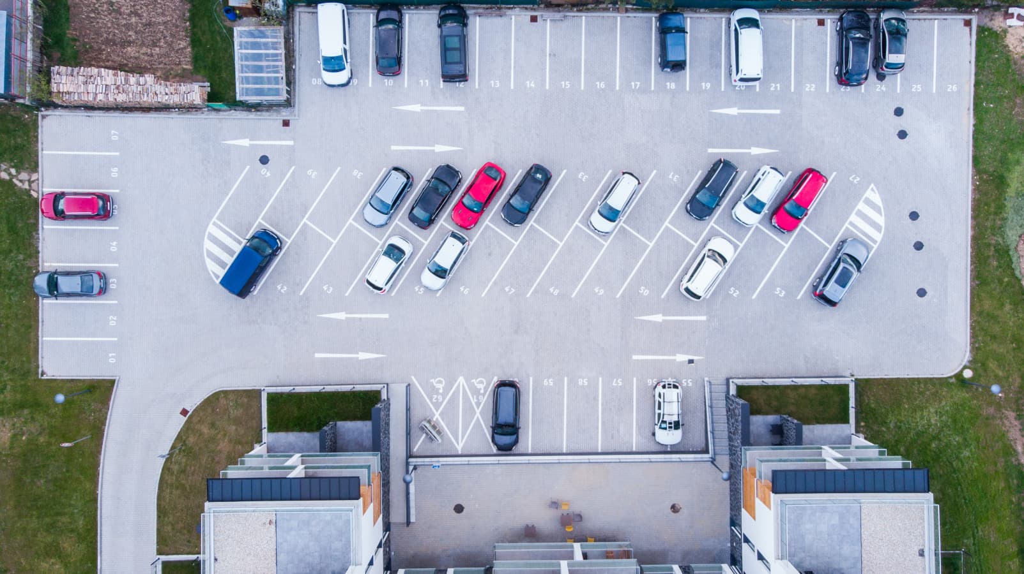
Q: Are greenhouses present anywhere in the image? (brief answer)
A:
Yes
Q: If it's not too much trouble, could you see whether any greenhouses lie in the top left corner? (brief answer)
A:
Yes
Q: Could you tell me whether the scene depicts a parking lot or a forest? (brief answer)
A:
parking lot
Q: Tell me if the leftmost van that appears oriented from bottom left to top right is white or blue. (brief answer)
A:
blue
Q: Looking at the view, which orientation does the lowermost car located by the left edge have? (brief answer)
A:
from side to side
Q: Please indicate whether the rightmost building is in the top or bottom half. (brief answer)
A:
bottom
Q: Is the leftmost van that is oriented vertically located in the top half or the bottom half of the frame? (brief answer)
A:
top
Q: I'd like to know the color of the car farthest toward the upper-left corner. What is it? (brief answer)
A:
pink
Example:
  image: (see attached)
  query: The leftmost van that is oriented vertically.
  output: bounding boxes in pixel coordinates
[314,1,352,85]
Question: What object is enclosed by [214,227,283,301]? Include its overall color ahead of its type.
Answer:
blue van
